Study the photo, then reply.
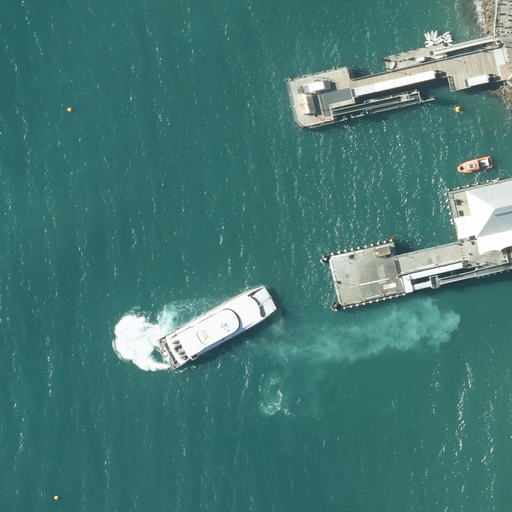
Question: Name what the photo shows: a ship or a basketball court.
ship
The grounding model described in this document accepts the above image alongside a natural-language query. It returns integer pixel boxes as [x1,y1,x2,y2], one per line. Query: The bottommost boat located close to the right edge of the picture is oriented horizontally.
[458,157,494,172]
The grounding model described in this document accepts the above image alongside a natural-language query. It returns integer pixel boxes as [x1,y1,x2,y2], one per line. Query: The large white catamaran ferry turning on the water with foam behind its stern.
[158,286,276,369]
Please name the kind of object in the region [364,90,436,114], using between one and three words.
pier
